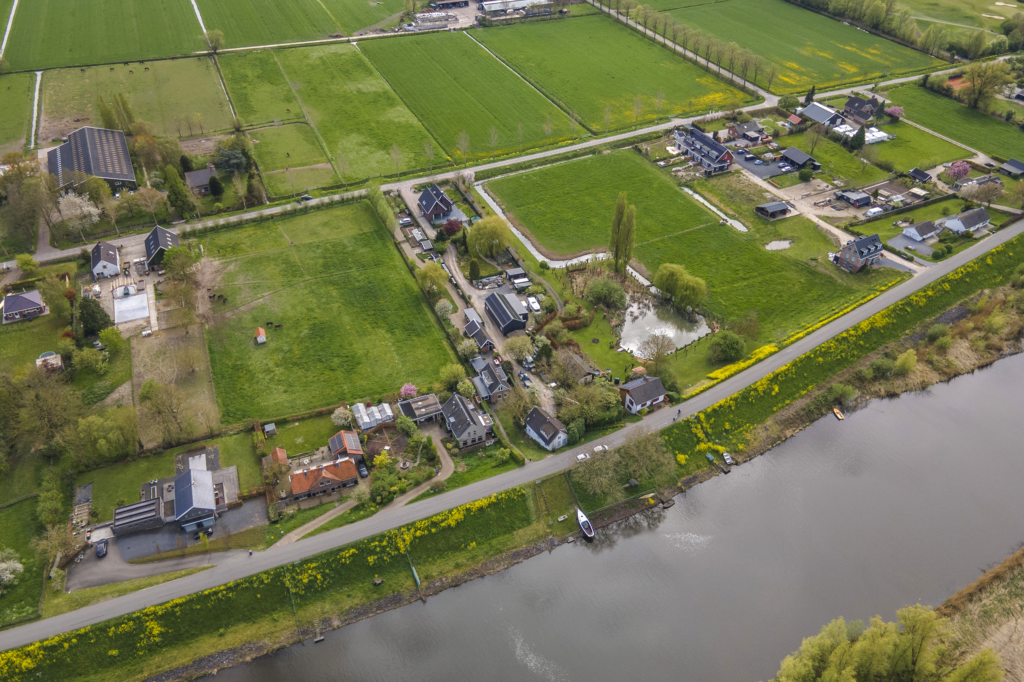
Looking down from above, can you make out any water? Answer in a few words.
Yes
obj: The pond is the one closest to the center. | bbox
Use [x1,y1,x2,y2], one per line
[620,300,711,360]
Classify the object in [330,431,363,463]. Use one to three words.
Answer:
barn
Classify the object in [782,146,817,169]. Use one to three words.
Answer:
building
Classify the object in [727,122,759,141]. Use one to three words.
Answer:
house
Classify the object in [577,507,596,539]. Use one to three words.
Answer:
boat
